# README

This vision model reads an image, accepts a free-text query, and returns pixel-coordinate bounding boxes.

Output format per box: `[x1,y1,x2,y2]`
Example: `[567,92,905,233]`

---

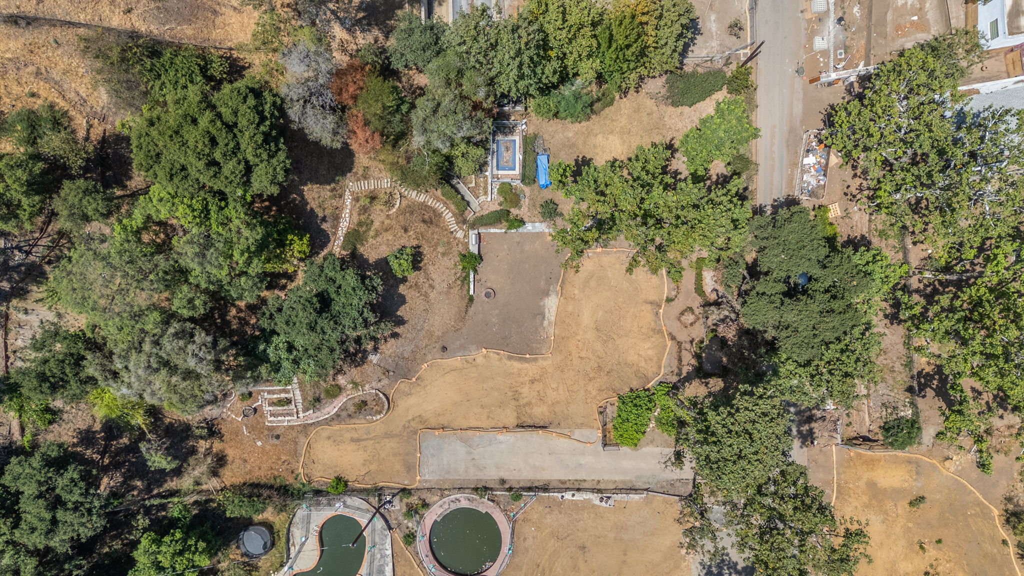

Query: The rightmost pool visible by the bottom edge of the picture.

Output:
[416,492,513,576]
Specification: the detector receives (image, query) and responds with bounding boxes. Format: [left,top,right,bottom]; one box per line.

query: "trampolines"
[235,525,270,562]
